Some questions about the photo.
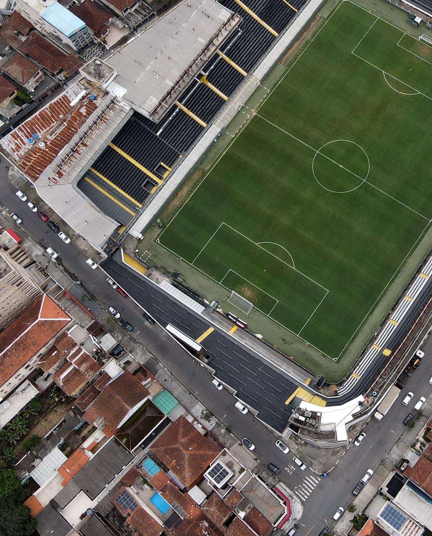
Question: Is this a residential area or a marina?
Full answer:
This image shows a residential area.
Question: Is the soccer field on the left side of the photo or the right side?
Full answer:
The soccer field appears in the right half of the scene.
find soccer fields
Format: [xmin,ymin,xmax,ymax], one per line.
[137,0,432,381]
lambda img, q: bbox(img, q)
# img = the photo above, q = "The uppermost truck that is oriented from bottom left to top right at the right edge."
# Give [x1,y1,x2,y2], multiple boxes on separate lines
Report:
[401,348,426,382]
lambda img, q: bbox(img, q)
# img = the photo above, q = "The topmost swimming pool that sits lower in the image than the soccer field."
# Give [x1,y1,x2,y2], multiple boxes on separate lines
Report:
[141,458,163,478]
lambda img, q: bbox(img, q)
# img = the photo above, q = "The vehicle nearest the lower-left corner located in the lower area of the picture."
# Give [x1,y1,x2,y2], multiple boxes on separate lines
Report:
[110,343,125,358]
